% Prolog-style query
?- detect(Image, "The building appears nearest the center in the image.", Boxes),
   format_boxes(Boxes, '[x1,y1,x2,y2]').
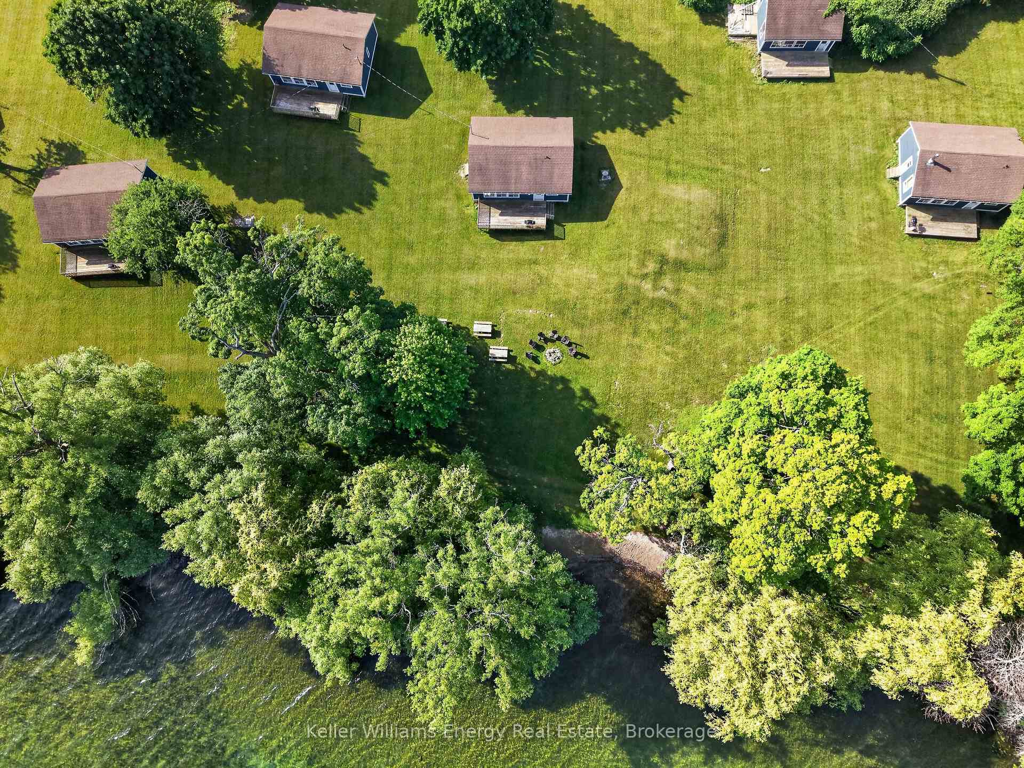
[468,116,575,203]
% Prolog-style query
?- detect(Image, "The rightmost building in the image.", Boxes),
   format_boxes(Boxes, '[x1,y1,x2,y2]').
[895,121,1024,215]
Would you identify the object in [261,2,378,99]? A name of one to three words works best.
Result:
building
